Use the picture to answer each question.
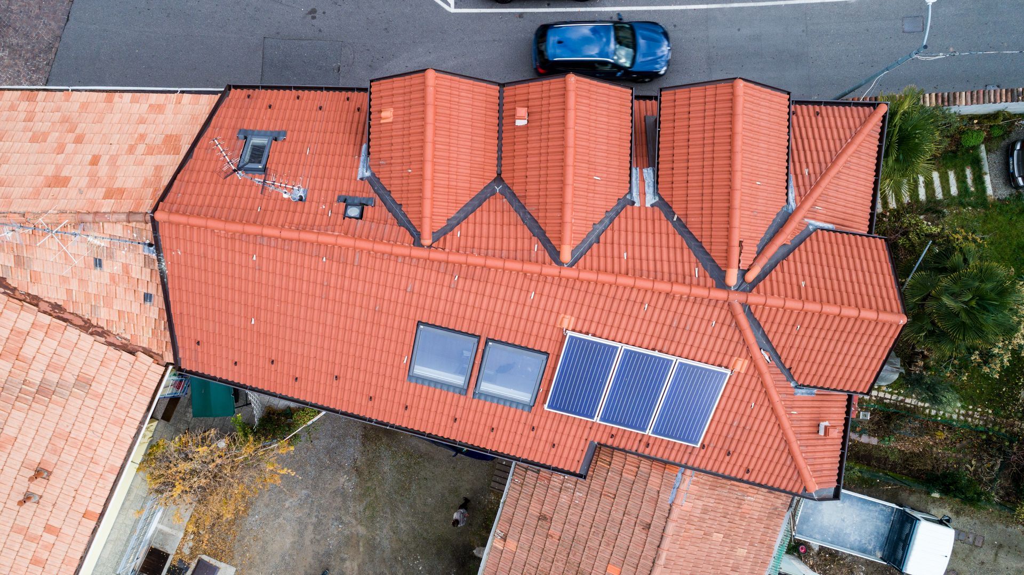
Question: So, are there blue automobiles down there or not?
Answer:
Yes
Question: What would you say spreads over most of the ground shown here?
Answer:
buildings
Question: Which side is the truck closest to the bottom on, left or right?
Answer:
right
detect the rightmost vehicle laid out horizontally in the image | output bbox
[791,487,956,575]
